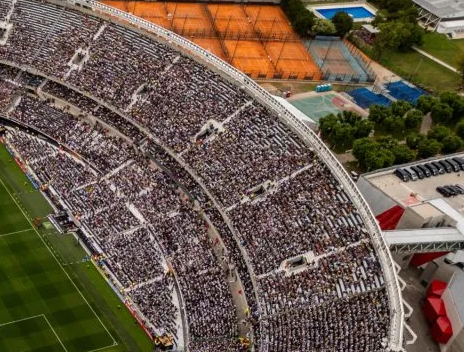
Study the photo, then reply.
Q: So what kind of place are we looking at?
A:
sports ground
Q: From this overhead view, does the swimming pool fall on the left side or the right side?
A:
right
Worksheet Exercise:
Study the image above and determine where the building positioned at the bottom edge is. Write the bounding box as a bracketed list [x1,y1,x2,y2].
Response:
[410,248,464,352]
